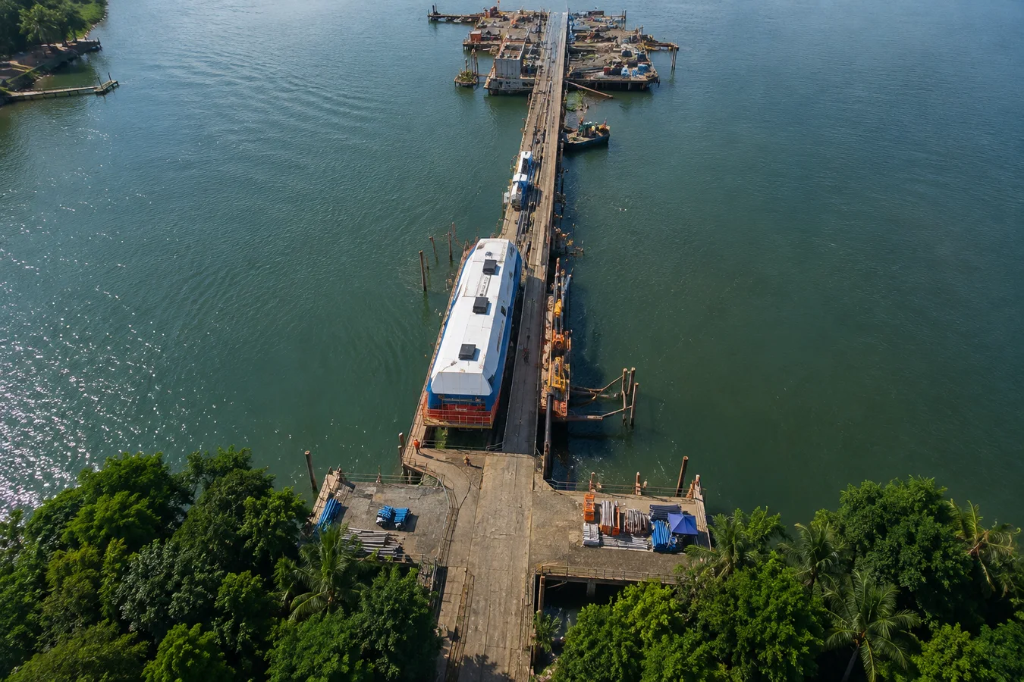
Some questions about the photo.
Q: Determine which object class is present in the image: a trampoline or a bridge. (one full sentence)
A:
Looking from above, you can make out a bridge.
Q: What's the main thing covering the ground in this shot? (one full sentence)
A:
What you mostly see from above here is water.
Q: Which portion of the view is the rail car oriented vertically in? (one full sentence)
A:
The rail car oriented vertically appears toward the top of the photo.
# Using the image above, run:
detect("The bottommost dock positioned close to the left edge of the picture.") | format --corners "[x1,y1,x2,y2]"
[6,65,119,104]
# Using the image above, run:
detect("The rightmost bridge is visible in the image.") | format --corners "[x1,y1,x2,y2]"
[498,12,567,470]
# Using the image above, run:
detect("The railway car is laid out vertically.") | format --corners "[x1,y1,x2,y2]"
[510,150,531,209]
